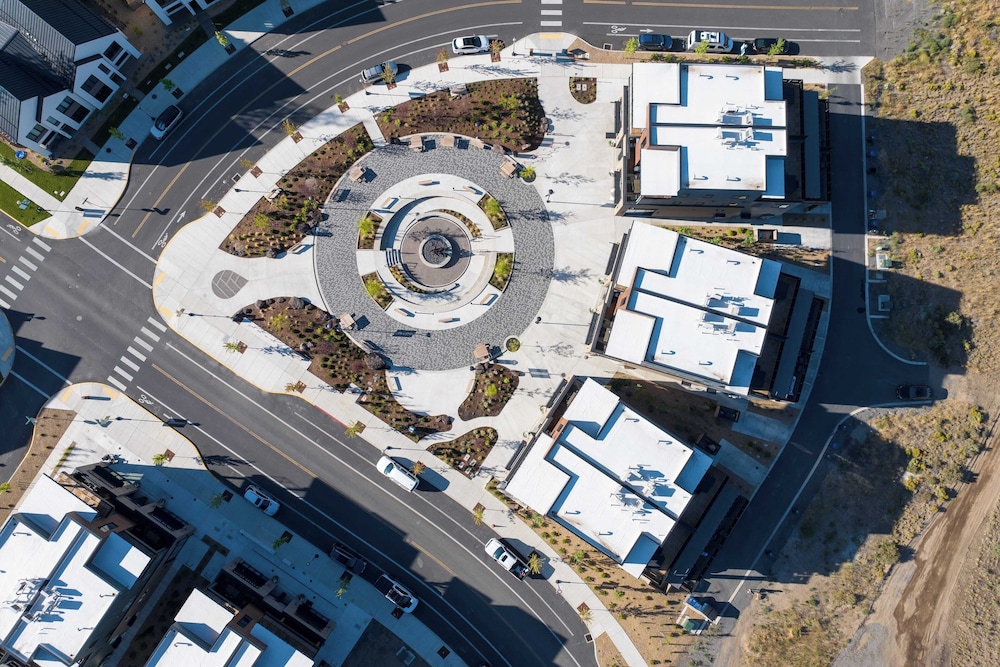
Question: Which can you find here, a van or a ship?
van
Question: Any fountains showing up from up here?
Yes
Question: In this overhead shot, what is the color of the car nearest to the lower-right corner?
black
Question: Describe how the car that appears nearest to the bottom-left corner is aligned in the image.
at an angle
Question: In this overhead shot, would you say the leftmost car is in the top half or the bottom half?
top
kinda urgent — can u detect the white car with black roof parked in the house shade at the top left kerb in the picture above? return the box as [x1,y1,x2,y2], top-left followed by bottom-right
[150,104,186,140]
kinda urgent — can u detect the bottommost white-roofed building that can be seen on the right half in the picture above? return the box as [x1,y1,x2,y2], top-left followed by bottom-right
[501,370,747,595]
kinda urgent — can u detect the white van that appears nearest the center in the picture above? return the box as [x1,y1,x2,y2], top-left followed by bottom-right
[375,455,422,494]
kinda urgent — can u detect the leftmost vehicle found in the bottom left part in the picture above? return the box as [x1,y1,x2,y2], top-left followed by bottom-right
[240,482,280,517]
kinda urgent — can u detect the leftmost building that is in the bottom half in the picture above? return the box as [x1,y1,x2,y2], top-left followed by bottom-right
[0,461,199,667]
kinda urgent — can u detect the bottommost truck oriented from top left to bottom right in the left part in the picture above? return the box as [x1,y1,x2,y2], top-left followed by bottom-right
[371,569,422,617]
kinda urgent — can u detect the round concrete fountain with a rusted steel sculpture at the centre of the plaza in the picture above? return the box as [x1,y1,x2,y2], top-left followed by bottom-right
[419,235,453,269]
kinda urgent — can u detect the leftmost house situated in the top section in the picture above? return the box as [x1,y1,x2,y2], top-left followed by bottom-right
[0,0,143,156]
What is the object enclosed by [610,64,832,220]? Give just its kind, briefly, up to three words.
building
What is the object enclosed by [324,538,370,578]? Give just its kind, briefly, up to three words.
truck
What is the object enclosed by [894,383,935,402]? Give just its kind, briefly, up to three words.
car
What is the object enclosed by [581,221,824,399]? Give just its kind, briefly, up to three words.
building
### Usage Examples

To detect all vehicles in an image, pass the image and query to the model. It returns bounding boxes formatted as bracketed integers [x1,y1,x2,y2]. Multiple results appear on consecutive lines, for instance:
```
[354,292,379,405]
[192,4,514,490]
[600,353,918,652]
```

[375,455,422,494]
[450,33,490,56]
[752,36,790,56]
[358,61,400,86]
[150,104,186,140]
[684,29,731,55]
[894,383,935,402]
[240,482,280,517]
[637,32,674,52]
[371,569,422,617]
[482,535,532,584]
[324,538,370,578]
